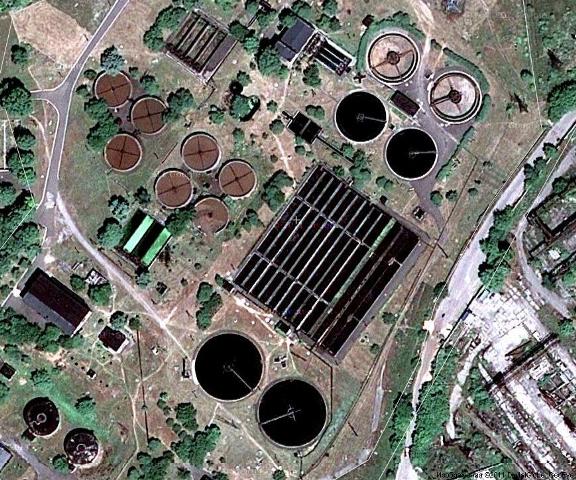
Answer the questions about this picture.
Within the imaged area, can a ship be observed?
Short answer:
No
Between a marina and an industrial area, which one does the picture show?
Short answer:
industrial area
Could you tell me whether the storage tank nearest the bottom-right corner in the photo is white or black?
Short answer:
black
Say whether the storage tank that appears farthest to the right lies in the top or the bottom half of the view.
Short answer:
top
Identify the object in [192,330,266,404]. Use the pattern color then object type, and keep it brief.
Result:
black storage tank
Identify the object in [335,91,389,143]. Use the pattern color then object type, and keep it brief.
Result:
black storage tank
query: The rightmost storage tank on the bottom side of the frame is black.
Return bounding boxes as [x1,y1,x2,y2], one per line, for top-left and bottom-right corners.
[254,376,328,450]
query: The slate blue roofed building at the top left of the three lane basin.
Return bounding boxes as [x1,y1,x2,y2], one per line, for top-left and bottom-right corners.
[277,15,319,66]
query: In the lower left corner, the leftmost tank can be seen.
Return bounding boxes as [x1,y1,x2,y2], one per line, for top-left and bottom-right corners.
[22,399,60,436]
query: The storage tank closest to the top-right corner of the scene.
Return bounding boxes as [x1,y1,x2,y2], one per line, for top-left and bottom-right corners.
[429,70,482,123]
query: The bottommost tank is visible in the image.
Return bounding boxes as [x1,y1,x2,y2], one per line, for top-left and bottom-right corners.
[64,429,100,465]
